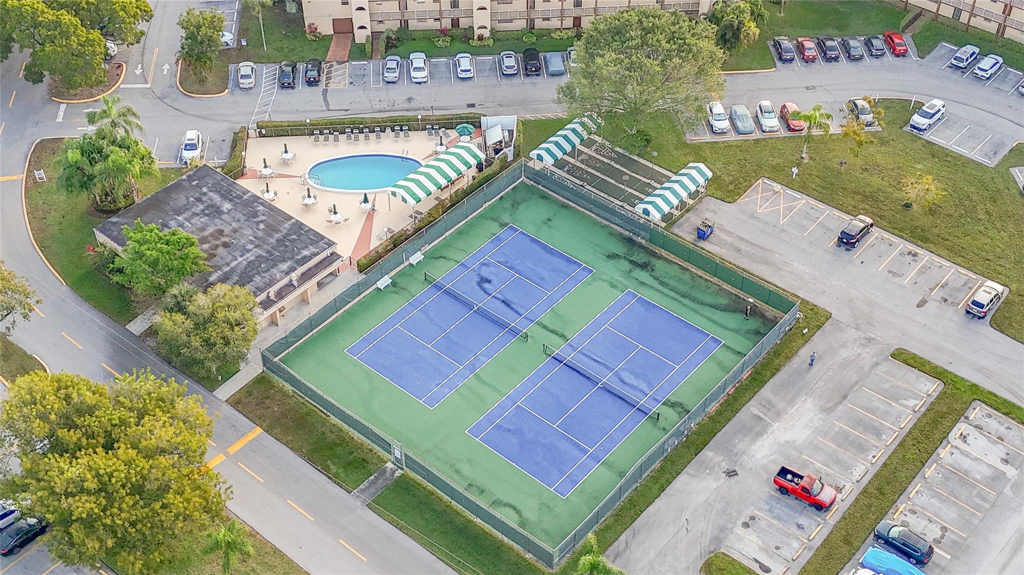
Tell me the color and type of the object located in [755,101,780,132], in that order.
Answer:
white car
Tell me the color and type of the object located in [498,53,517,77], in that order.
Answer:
white car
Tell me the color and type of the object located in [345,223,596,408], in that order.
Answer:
blue tennis court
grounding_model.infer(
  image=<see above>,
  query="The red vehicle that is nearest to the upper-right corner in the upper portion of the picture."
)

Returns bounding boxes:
[882,32,908,57]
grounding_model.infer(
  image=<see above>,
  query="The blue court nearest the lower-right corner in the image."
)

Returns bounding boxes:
[466,288,723,498]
